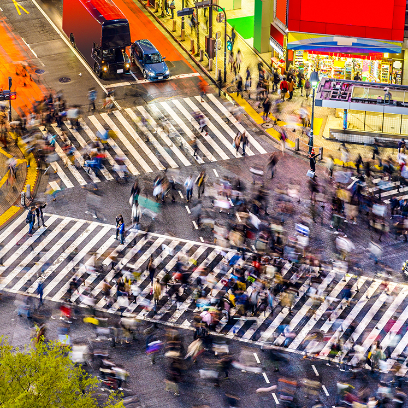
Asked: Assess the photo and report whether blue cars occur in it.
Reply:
Yes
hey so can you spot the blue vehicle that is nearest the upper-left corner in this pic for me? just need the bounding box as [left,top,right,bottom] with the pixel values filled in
[129,41,170,81]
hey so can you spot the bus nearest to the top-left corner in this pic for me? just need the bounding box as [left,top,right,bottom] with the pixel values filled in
[59,0,136,80]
